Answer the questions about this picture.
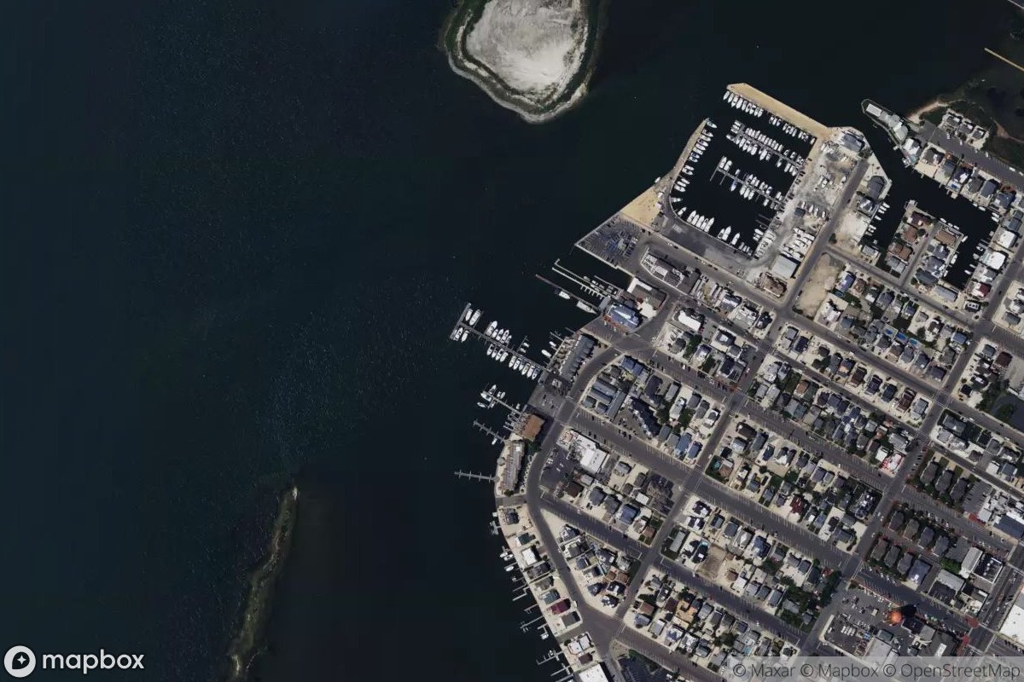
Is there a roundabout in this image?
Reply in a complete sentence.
No, there is no roundabout in the image.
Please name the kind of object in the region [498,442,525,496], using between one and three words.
building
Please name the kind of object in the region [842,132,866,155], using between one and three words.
house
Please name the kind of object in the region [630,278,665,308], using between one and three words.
building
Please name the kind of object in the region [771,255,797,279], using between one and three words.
shed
